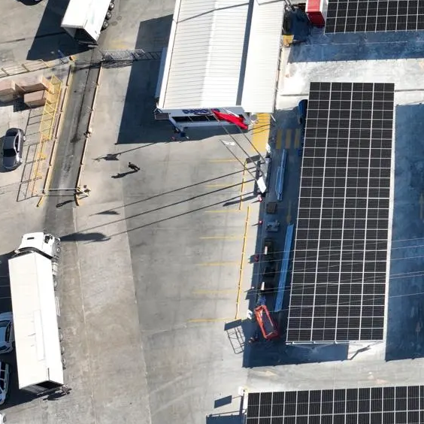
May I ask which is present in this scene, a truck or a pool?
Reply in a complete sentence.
Of the two, only a truck appears.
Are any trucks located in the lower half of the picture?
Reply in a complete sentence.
Yes, in the lower half of the picture there is a truck.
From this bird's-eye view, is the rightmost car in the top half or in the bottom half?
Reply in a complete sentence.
The rightmost car sits in the top half of the picture.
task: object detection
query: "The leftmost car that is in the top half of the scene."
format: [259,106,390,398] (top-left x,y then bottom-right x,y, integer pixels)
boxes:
[0,129,27,169]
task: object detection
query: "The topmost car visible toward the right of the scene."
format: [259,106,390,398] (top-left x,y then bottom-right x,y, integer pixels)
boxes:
[291,99,311,132]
